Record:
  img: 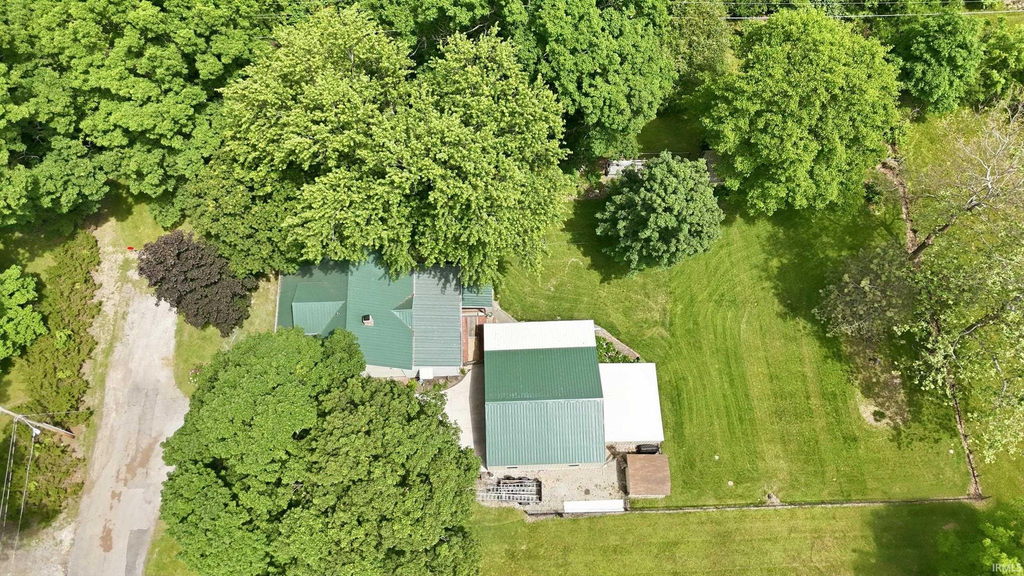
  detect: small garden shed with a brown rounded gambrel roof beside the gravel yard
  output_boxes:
[624,452,671,498]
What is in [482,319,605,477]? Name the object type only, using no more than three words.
building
